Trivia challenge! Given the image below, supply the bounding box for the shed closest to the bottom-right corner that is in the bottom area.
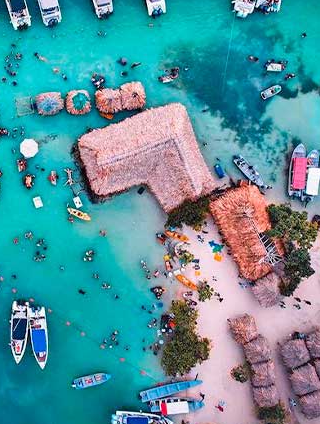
[291,388,320,417]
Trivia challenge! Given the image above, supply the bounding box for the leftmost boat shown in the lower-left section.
[11,302,29,364]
